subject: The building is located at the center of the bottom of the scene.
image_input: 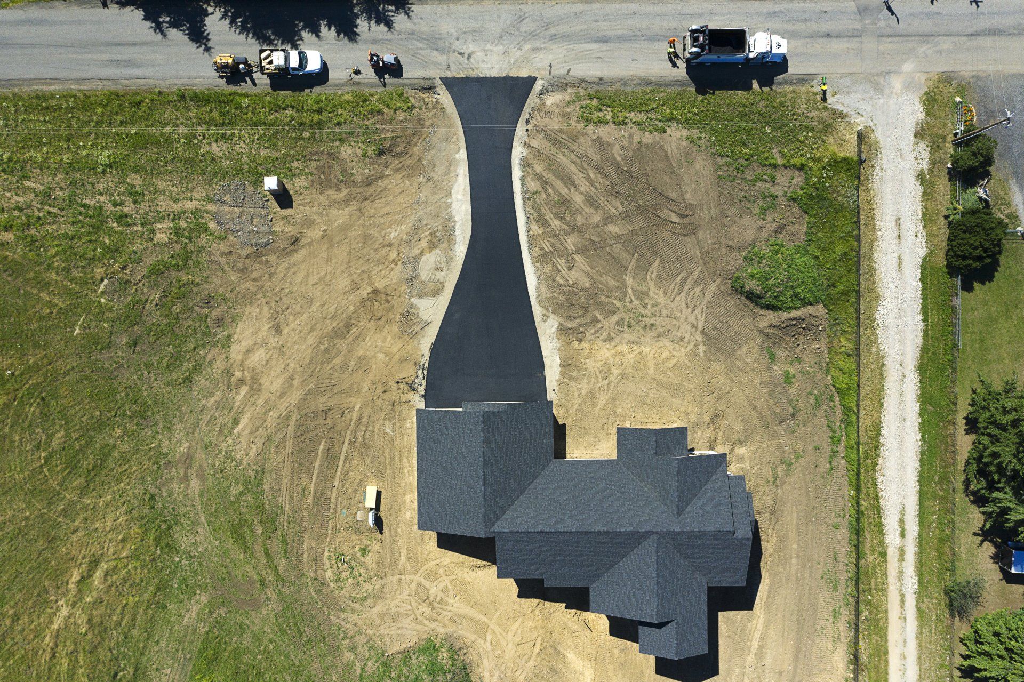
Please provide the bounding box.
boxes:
[416,401,756,659]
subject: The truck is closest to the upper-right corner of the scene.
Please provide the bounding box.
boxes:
[681,26,787,65]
